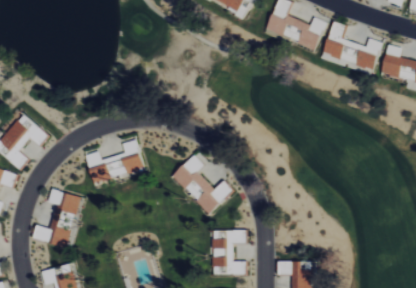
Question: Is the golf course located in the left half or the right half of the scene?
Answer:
right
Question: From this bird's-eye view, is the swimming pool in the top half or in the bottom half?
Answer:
bottom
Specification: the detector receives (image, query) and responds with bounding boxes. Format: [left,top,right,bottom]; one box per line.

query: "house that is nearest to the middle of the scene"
[172,155,232,216]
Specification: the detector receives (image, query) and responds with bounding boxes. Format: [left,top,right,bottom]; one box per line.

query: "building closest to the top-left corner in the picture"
[0,110,50,170]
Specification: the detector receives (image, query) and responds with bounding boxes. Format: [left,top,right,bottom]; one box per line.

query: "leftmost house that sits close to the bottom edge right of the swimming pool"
[210,230,253,276]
